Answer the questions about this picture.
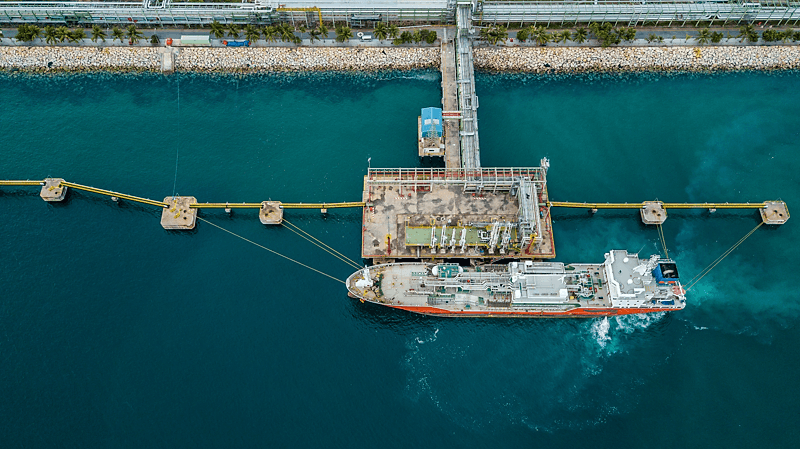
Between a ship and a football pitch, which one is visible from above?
ship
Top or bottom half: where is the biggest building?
top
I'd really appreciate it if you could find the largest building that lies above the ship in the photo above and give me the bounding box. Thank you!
[417,106,444,166]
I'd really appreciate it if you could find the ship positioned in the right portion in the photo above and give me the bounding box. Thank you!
[346,229,687,316]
